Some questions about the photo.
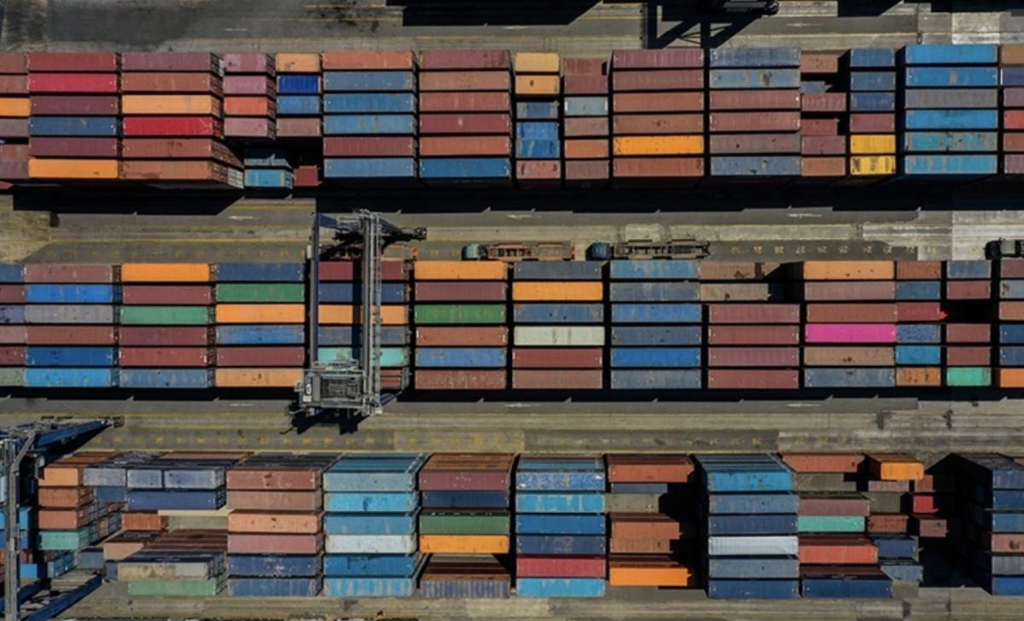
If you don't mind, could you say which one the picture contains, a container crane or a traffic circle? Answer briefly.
container crane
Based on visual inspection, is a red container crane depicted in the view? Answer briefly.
No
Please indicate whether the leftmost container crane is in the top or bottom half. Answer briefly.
bottom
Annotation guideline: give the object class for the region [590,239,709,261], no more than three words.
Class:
truck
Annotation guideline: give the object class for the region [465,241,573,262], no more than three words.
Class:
truck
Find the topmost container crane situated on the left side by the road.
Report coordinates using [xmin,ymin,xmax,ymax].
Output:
[281,206,429,421]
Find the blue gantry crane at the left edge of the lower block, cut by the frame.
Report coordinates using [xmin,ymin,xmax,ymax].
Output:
[0,415,130,621]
